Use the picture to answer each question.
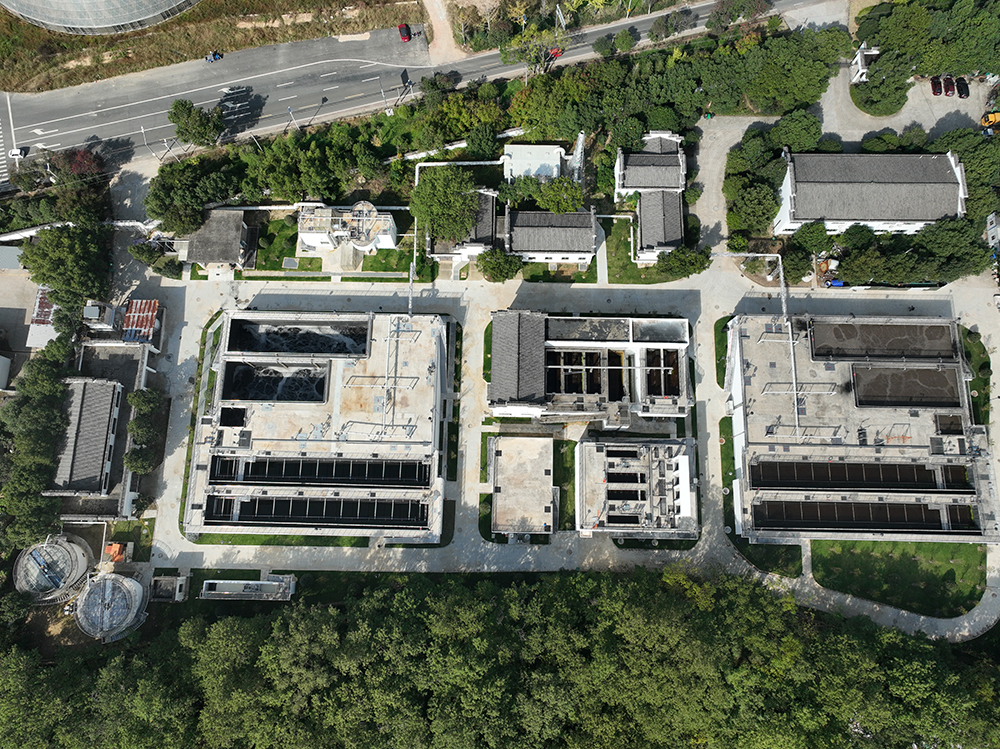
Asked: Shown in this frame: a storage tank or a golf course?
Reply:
storage tank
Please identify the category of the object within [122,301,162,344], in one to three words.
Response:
shed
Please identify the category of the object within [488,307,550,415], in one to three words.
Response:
house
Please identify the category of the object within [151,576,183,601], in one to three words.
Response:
building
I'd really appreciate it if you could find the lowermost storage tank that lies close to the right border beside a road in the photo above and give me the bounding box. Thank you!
[719,312,1000,546]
